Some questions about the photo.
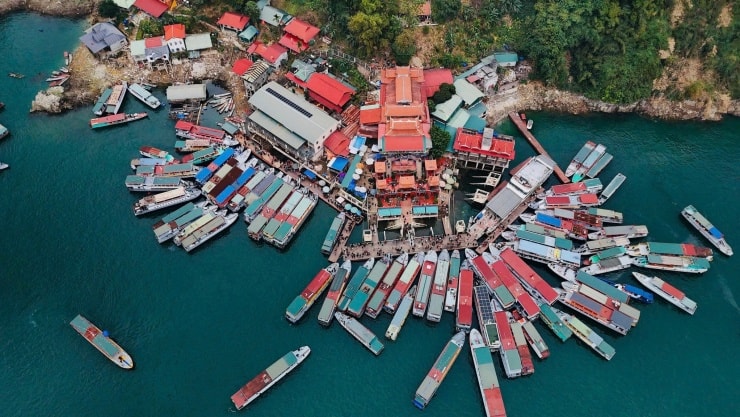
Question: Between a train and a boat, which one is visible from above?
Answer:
boat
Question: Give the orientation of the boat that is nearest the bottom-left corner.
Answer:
at an angle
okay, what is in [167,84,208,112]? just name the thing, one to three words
shed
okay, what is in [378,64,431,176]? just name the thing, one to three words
building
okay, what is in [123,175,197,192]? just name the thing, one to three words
boat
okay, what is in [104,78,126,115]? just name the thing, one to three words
boat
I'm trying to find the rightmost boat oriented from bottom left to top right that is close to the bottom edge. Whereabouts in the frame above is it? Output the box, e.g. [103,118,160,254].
[408,329,462,411]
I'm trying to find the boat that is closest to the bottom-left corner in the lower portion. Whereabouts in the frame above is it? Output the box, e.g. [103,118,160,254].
[69,314,132,369]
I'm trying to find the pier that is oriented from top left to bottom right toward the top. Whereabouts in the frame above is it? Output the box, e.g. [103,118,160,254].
[508,113,575,183]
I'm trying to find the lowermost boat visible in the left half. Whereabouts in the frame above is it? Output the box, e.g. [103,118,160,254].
[229,348,310,413]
